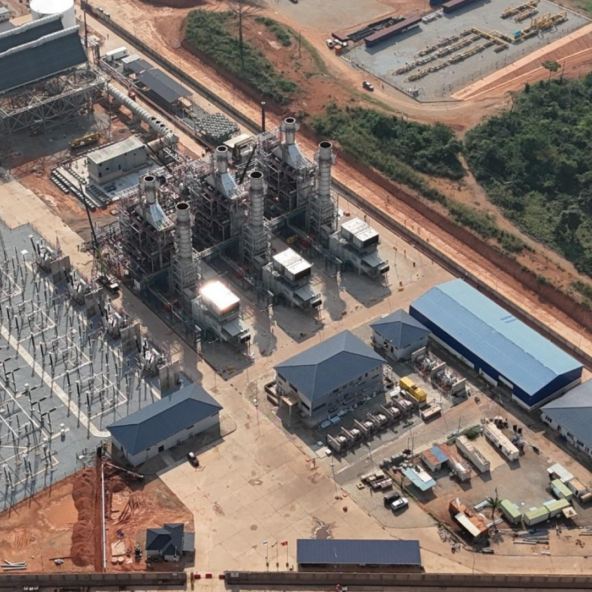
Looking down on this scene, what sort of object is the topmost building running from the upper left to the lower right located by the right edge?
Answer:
warehouse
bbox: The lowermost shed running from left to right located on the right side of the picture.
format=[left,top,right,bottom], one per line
[298,537,422,573]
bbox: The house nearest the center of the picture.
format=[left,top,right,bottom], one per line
[255,248,334,315]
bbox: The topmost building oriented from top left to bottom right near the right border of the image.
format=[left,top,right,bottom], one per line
[408,277,585,410]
